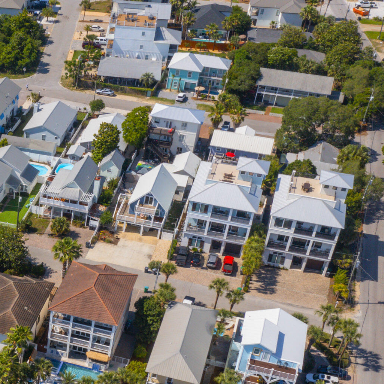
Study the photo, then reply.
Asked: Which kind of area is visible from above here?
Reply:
residential area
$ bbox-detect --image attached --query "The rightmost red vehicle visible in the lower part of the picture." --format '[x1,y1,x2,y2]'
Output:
[222,256,235,273]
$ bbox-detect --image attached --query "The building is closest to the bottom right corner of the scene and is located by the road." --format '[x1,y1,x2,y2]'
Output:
[229,302,308,384]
